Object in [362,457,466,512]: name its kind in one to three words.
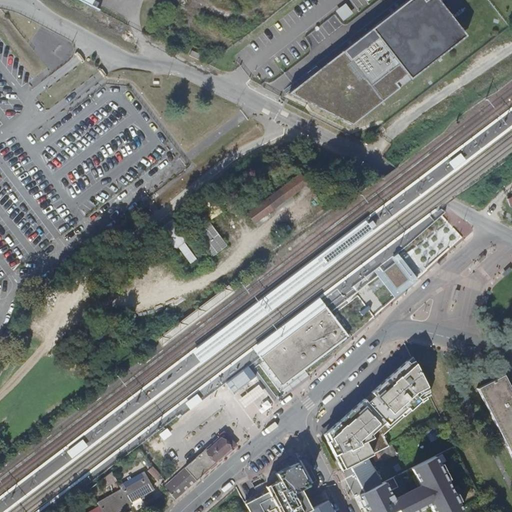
house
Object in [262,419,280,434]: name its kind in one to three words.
vehicle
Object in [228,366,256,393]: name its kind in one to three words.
shed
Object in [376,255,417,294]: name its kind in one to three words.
building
